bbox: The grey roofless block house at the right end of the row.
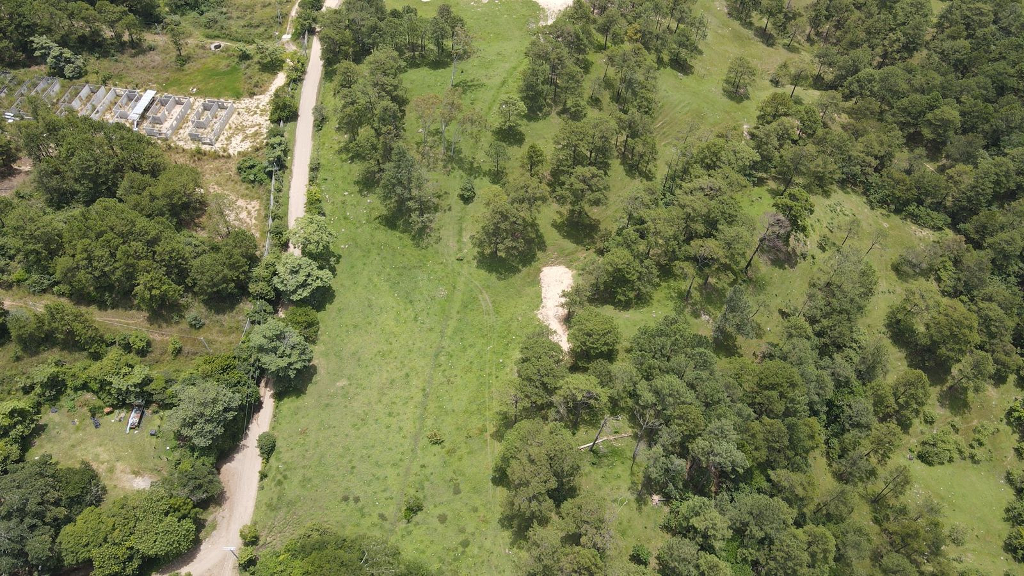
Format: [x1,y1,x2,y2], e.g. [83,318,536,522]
[188,97,238,140]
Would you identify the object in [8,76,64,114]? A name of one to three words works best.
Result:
house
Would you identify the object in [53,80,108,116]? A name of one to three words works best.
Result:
house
